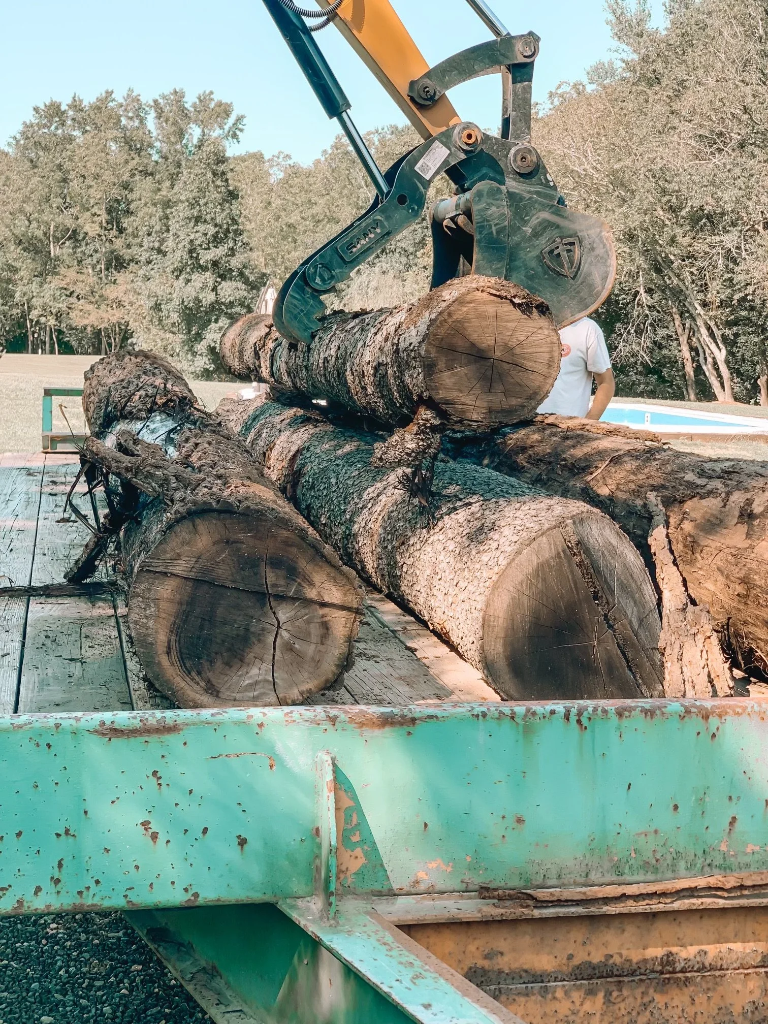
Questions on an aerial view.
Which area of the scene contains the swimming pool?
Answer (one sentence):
The swimming pool appears toward the right of the photo.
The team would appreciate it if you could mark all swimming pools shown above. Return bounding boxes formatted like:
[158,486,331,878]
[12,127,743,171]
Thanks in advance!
[586,404,768,441]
